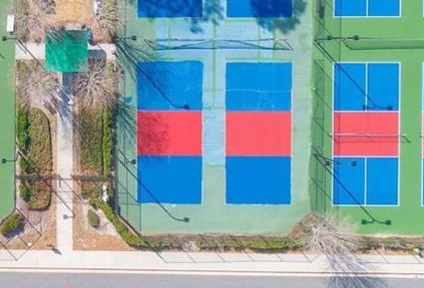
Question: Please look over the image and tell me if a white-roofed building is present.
No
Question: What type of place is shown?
sports ground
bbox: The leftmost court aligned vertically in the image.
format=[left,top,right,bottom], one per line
[135,60,204,206]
